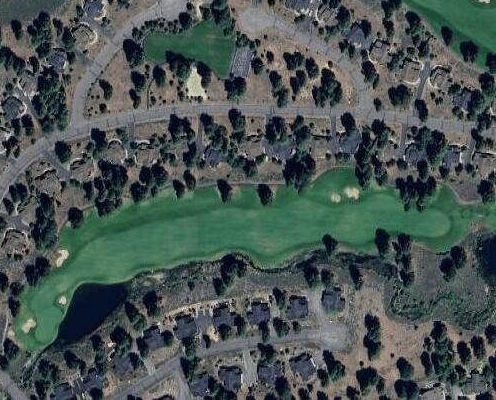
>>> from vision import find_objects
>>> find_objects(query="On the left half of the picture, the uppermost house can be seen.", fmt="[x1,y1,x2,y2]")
[82,0,107,20]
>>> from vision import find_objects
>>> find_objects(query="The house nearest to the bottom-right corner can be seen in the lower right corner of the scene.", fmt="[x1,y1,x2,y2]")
[463,376,489,398]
